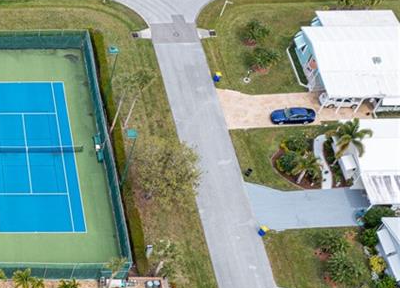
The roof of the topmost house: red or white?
white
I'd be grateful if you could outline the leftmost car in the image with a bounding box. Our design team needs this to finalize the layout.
[273,106,317,124]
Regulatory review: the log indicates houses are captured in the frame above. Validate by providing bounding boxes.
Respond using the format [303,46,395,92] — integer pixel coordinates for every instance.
[379,217,400,286]
[292,10,400,113]
[337,116,400,217]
